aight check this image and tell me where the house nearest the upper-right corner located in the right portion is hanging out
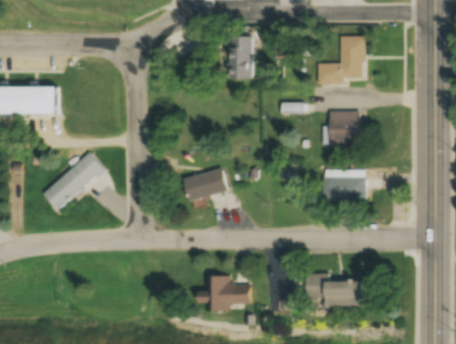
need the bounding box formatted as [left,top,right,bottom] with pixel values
[318,36,368,86]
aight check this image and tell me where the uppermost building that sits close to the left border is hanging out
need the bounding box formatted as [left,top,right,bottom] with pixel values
[0,82,63,116]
